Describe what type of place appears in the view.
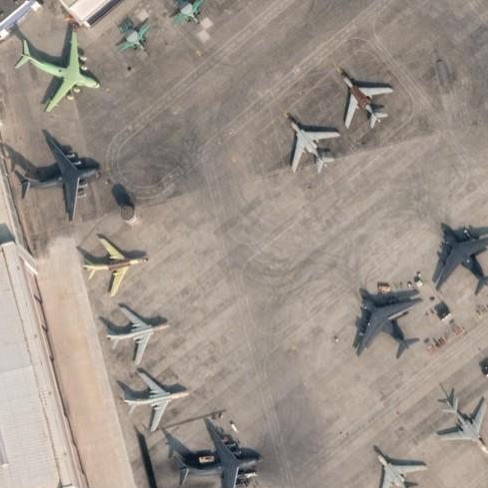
airport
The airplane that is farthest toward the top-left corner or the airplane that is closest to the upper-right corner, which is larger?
the airplane that is farthest toward the top-left corner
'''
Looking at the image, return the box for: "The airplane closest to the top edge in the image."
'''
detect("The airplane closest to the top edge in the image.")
[173,0,207,25]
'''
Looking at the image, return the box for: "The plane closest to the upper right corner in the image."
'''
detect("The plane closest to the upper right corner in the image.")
[345,80,393,130]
